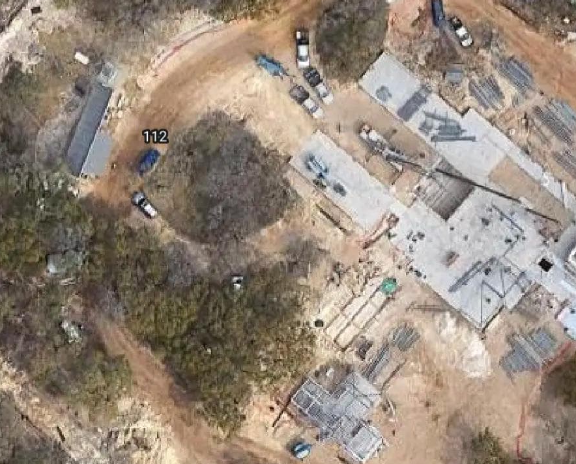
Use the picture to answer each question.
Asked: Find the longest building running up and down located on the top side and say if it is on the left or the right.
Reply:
left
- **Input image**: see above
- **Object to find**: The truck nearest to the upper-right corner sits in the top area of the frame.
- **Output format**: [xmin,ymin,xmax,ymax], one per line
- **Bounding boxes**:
[447,13,473,48]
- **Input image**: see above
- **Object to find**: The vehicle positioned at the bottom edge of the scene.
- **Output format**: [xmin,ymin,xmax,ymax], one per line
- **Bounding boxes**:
[294,440,314,459]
